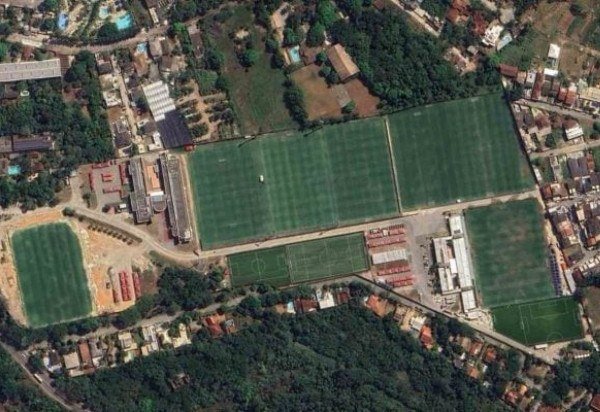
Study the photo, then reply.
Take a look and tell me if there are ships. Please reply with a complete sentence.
No, there's no ship here.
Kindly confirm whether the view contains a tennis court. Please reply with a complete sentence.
No, no tennis court is visible in the view.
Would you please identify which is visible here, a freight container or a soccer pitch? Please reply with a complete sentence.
Visible in the photo is a soccer pitch.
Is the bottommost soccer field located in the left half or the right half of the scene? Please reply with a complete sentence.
The bottommost soccer field appears in the right half of the scene.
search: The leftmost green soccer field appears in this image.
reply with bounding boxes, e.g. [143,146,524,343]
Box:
[13,222,93,328]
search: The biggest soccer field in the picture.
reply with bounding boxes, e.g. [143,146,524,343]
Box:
[186,118,401,250]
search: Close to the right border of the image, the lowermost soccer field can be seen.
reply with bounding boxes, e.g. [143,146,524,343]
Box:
[490,295,584,346]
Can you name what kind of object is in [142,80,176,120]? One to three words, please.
building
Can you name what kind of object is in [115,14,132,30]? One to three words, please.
swimming pool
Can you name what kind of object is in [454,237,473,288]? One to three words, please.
building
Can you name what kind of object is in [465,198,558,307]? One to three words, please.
soccer field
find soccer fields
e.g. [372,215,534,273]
[388,94,536,210]
[228,246,291,289]
[465,198,558,307]
[288,233,370,281]
[490,295,584,346]
[13,222,93,328]
[186,118,401,250]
